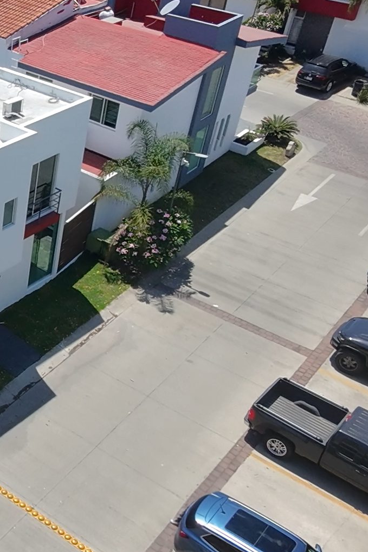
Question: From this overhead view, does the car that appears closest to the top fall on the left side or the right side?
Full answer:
You can find the car that appears closest to the top on the right side of the picture.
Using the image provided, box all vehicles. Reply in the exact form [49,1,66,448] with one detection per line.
[169,488,311,552]
[299,55,351,93]
[324,320,368,373]
[246,383,368,498]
